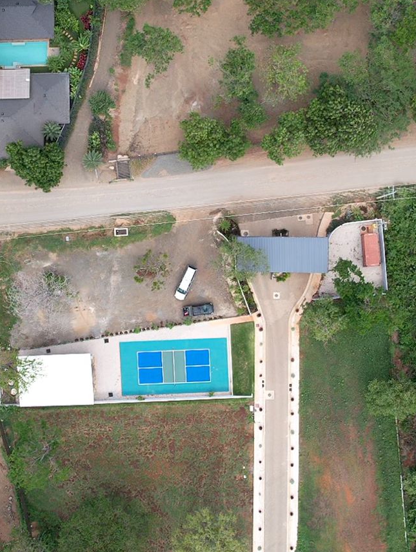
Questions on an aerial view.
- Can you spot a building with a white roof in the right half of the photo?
No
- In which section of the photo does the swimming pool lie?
top left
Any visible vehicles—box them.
[176,266,196,300]
[182,304,214,317]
